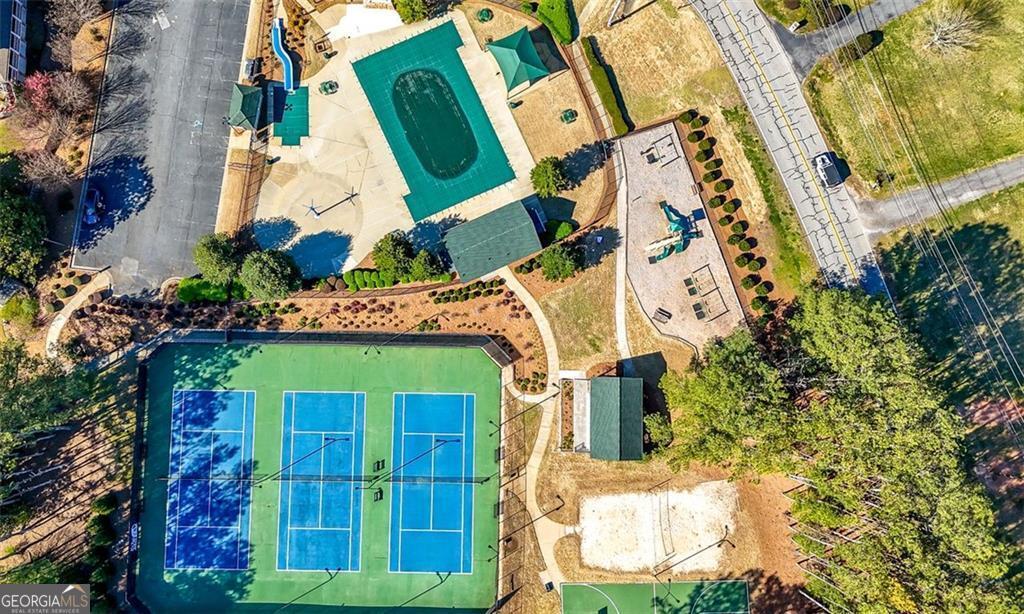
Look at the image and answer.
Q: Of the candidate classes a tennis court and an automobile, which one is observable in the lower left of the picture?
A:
tennis court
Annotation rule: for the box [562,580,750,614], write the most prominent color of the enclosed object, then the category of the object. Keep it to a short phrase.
green basketball court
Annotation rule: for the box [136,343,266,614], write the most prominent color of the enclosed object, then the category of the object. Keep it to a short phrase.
blue tennis court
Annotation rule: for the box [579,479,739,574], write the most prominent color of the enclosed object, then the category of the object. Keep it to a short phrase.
white sports court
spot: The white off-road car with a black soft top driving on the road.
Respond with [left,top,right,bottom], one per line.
[816,152,844,187]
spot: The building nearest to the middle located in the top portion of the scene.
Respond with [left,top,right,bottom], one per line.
[445,200,542,282]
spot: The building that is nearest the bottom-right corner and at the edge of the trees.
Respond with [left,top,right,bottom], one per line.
[590,377,642,462]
